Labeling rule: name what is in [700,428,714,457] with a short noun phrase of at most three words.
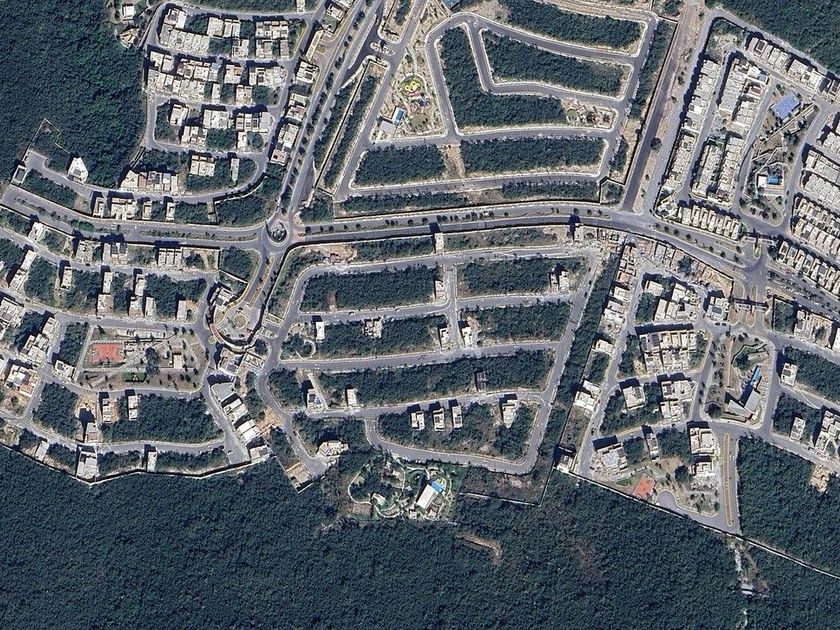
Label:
house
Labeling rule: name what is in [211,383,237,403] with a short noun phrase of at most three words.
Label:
house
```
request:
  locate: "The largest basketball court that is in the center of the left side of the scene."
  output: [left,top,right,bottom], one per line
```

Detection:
[85,341,126,367]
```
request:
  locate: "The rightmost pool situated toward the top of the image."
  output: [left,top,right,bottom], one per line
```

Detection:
[758,175,783,191]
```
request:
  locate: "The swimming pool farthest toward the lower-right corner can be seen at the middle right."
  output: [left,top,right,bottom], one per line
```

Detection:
[748,364,766,390]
